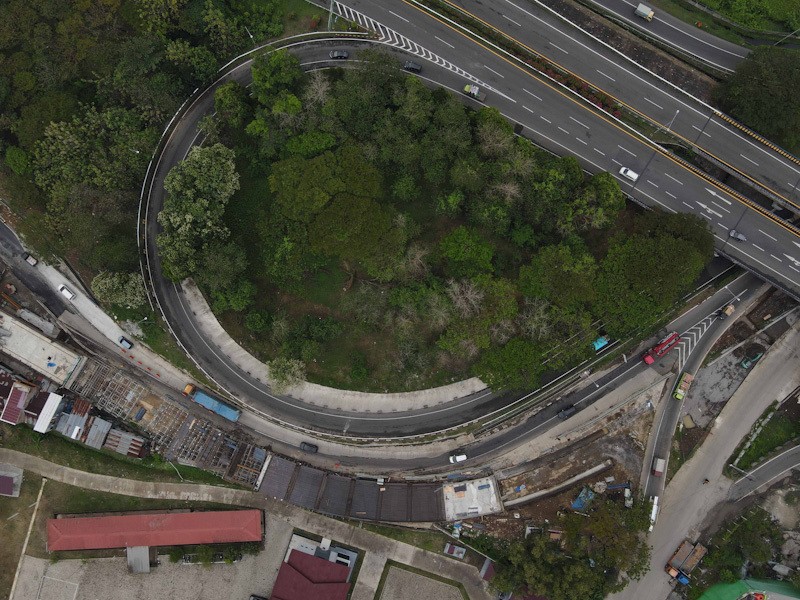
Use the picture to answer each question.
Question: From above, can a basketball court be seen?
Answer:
No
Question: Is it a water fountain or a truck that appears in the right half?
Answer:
truck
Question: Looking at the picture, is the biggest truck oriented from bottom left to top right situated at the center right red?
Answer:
Yes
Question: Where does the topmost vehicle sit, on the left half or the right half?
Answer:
right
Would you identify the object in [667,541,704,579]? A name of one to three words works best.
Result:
truck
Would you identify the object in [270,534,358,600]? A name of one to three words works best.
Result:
house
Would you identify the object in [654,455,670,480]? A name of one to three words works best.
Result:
vehicle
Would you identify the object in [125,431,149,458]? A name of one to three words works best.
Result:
shed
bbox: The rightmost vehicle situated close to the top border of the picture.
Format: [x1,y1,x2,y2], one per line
[632,0,659,20]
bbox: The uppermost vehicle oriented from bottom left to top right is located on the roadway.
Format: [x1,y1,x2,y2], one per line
[715,301,741,323]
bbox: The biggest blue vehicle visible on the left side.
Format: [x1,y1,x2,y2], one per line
[181,384,240,423]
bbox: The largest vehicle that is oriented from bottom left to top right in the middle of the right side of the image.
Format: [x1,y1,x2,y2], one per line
[641,330,687,365]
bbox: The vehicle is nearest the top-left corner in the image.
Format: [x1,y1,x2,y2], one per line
[18,249,38,267]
